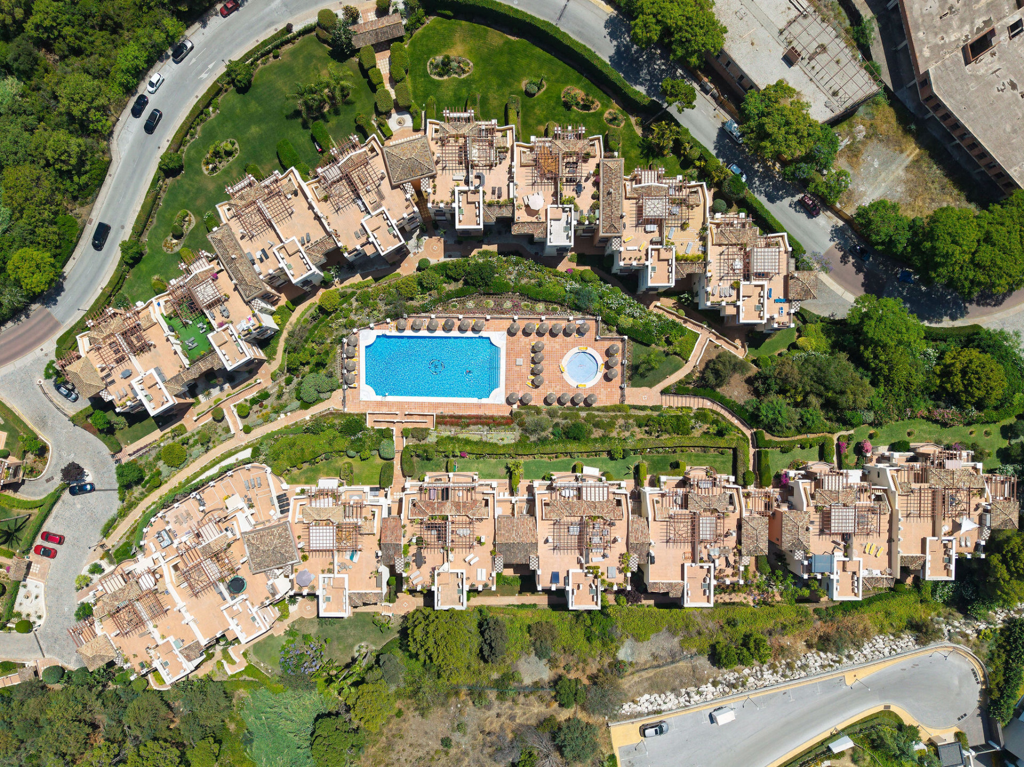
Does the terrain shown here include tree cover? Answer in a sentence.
Yes, tree cover shows up in the scene.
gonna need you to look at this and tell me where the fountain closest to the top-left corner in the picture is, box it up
[392,113,408,130]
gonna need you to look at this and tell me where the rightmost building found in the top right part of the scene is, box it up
[882,0,1024,206]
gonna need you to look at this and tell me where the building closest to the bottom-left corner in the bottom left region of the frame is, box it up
[18,660,45,683]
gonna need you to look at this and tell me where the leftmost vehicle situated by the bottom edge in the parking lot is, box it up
[639,720,669,739]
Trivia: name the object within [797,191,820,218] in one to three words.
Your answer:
car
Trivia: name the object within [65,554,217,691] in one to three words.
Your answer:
house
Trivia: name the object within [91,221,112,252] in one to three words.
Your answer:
vehicle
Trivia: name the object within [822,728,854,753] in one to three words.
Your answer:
building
